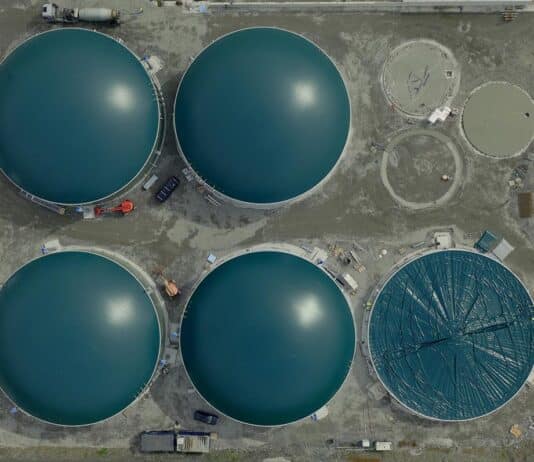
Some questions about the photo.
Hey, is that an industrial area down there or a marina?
industrial area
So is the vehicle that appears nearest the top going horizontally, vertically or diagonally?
horizontally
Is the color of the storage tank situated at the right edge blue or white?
blue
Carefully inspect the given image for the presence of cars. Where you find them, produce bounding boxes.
[192,409,220,425]
[154,176,181,203]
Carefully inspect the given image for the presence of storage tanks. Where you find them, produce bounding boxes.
[172,27,353,209]
[178,246,358,427]
[362,245,534,422]
[0,27,167,210]
[0,246,168,427]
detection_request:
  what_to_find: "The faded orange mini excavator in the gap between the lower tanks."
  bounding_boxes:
[156,269,178,296]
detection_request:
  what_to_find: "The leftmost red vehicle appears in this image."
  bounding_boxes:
[96,200,135,216]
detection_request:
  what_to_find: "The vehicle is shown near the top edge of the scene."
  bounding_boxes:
[41,3,120,22]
